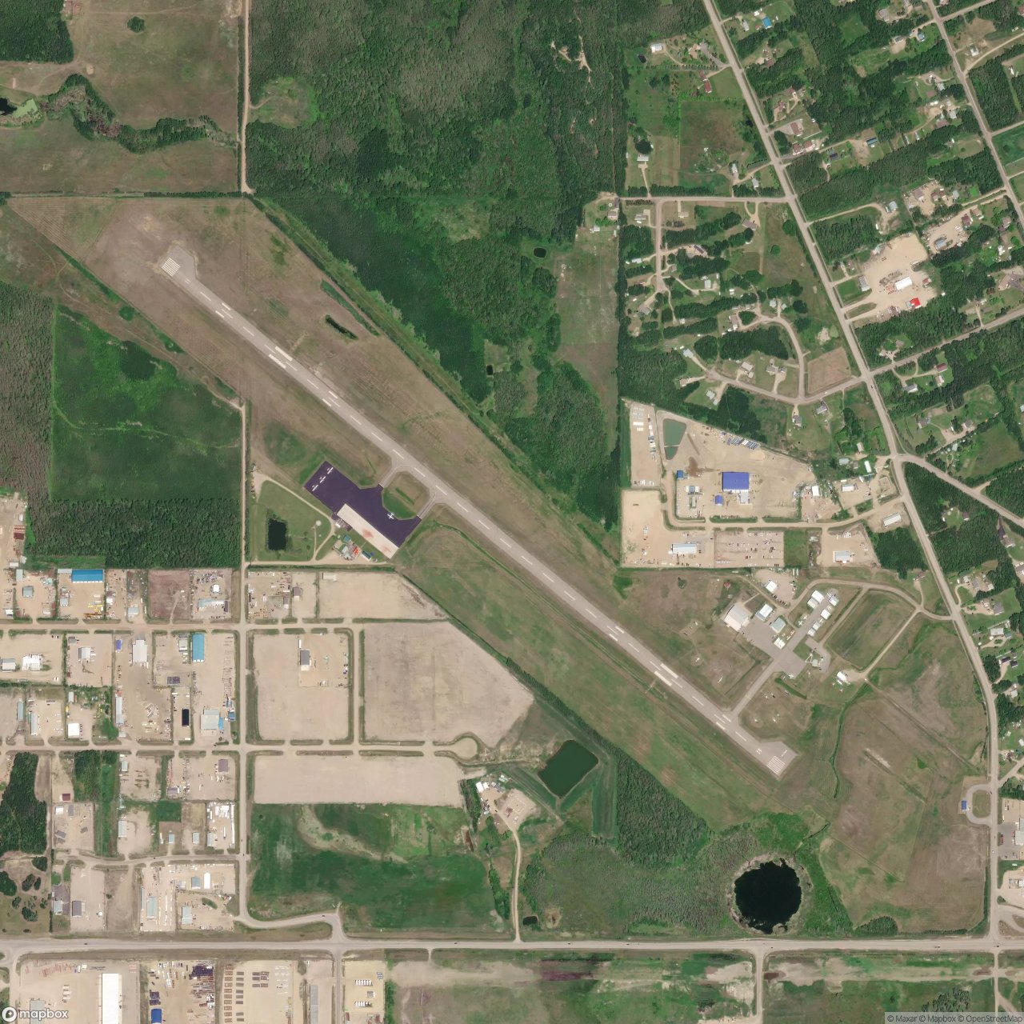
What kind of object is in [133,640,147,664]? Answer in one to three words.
building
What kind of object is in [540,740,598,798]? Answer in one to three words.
pond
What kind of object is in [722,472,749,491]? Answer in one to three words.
building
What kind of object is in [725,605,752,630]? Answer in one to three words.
hangar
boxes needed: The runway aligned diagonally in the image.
[161,257,787,777]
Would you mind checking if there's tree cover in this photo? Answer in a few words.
Yes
